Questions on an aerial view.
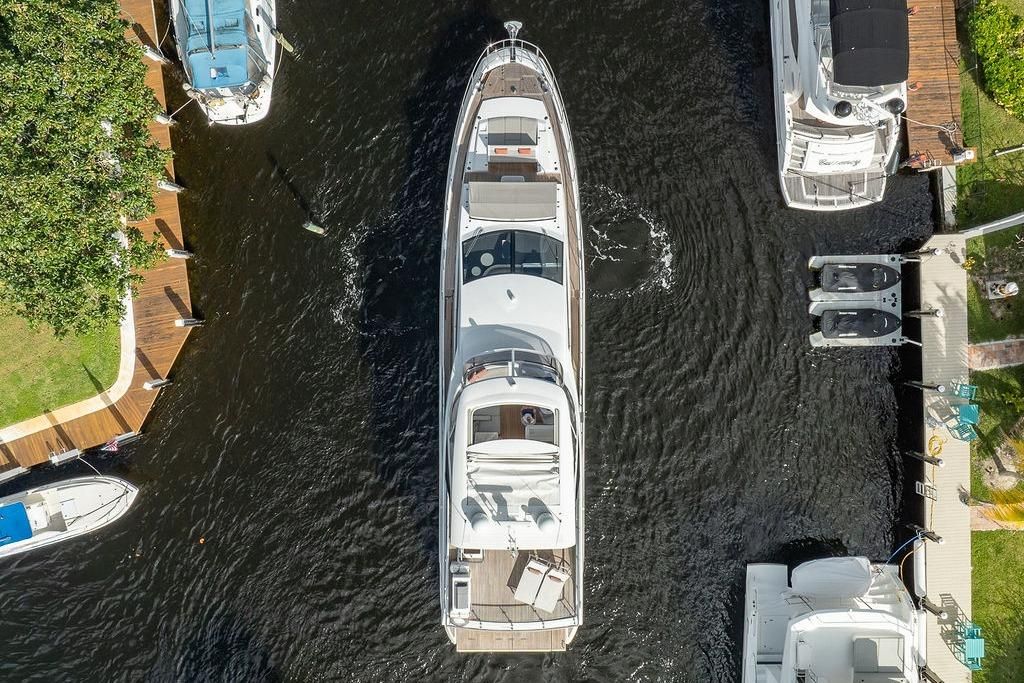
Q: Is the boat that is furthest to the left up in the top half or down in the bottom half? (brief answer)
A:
bottom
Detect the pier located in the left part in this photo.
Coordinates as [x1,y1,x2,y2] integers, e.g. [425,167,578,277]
[0,0,196,473]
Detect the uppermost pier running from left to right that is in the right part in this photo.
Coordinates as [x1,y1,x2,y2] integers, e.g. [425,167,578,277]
[806,256,900,302]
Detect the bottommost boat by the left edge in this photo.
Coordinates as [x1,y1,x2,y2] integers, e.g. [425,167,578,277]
[0,474,143,557]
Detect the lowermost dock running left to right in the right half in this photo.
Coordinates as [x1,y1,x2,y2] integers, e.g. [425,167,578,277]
[806,301,900,347]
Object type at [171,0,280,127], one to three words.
boat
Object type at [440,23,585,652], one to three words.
boat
